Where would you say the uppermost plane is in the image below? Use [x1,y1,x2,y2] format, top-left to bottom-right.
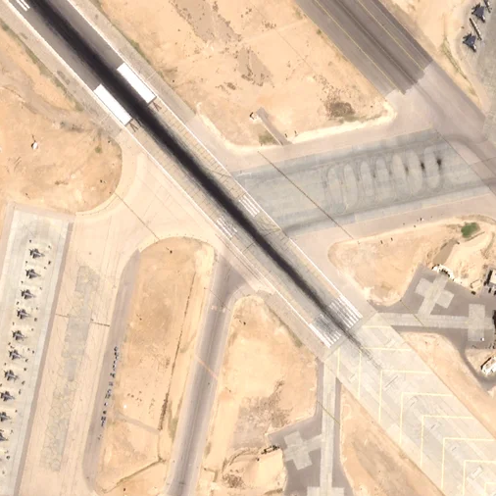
[471,1,485,20]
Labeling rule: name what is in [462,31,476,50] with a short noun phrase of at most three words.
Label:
airplane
